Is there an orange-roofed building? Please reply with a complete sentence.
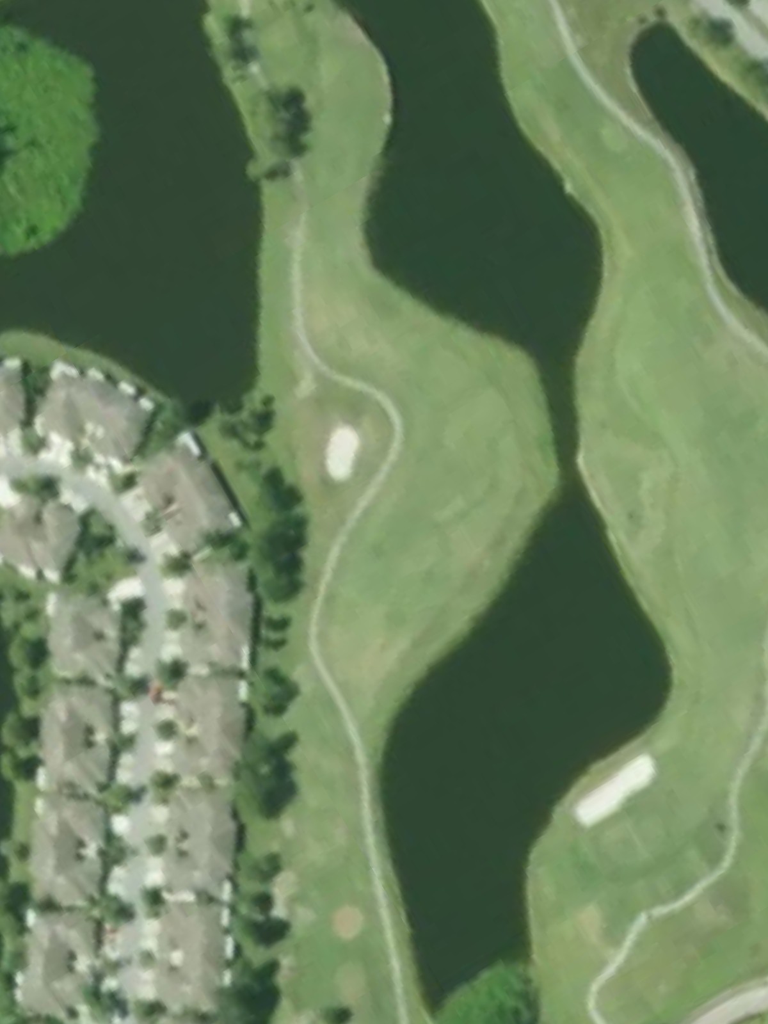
No, the photo shows no orange-roofed building.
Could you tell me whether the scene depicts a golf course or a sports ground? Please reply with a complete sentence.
This image shows a golf course.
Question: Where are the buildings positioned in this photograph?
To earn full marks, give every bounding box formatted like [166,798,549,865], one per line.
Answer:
[162,791,237,902]
[180,562,254,673]
[34,361,154,461]
[137,430,246,553]
[153,901,234,1013]
[28,795,106,906]
[0,492,82,584]
[172,678,249,788]
[0,359,28,445]
[46,591,120,678]
[13,909,97,1021]
[35,684,114,796]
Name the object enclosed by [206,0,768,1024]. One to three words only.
golf course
